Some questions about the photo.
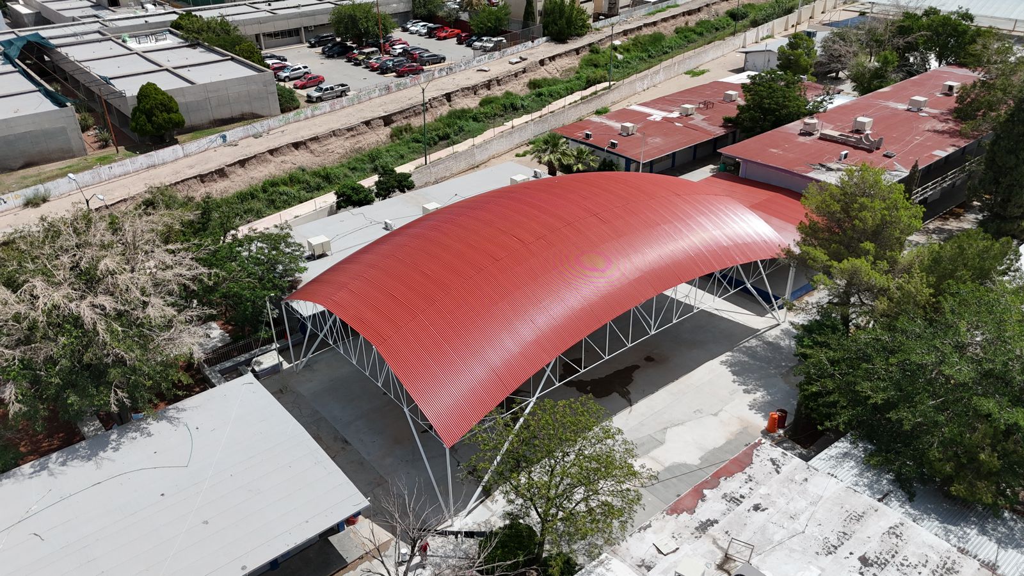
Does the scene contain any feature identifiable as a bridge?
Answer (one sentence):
No, the picture doesn't show any bridge.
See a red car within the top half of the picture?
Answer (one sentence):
Yes, a red car can be seen within the top half of the picture.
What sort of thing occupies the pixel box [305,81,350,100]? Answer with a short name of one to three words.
vehicle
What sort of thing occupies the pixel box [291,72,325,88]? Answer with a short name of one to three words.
car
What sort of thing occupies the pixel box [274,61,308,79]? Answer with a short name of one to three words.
car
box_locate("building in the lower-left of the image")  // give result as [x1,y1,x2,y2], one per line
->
[0,373,374,576]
